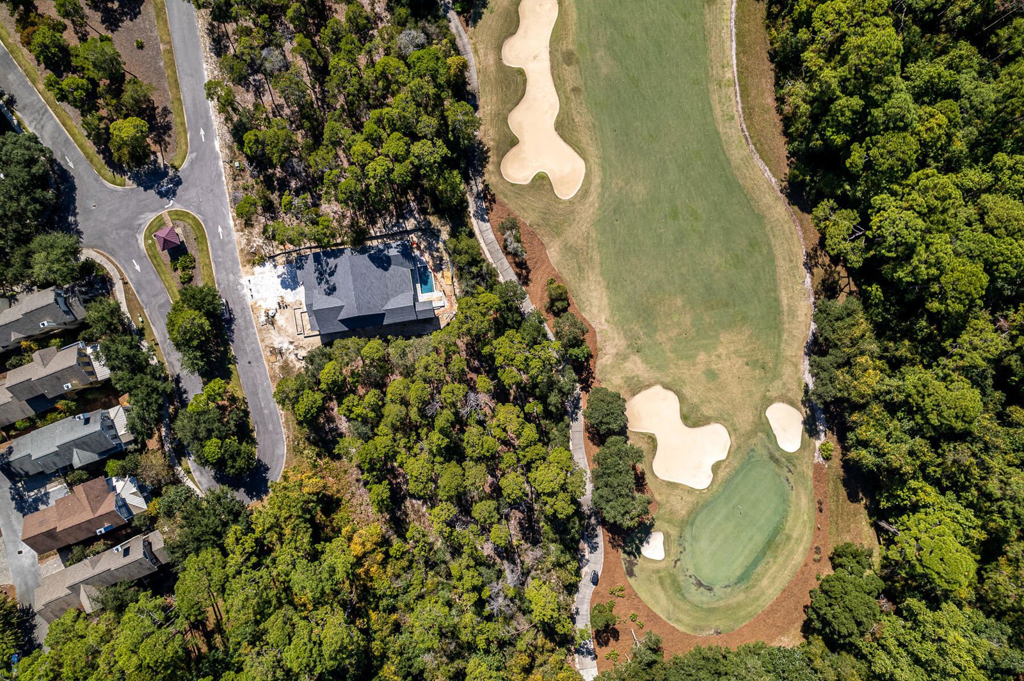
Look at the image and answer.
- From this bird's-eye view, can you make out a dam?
No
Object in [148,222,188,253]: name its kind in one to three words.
gazebo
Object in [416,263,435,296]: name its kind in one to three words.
swimming pool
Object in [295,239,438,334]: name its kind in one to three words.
house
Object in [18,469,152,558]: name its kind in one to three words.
house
